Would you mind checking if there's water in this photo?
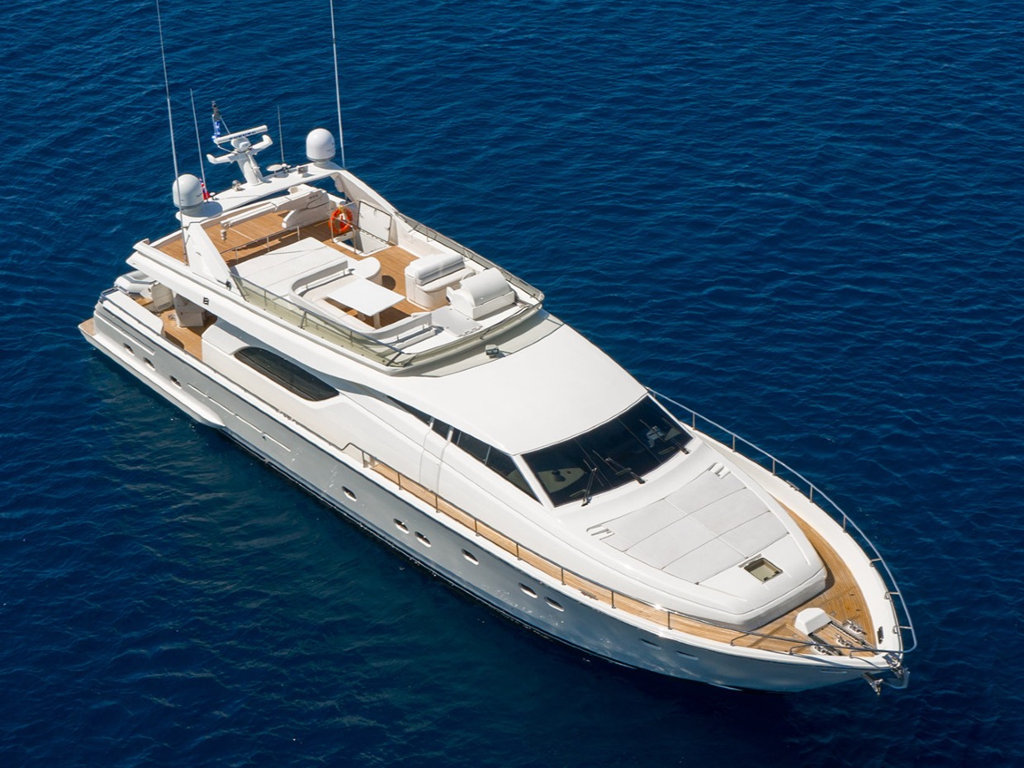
Yes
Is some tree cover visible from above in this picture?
No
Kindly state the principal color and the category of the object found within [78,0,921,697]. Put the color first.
white boat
